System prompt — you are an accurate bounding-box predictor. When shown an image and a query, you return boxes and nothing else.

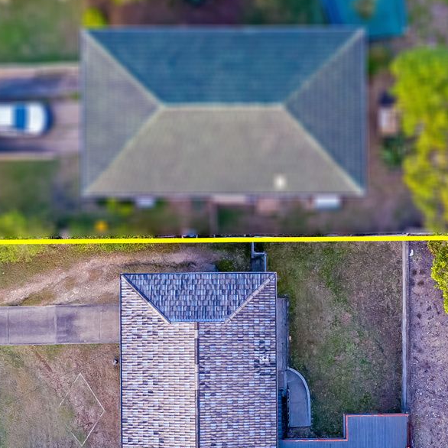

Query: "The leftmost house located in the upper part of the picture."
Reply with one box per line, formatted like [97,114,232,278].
[80,25,368,198]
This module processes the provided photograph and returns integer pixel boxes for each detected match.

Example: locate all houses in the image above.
[80,25,368,198]
[119,271,278,448]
